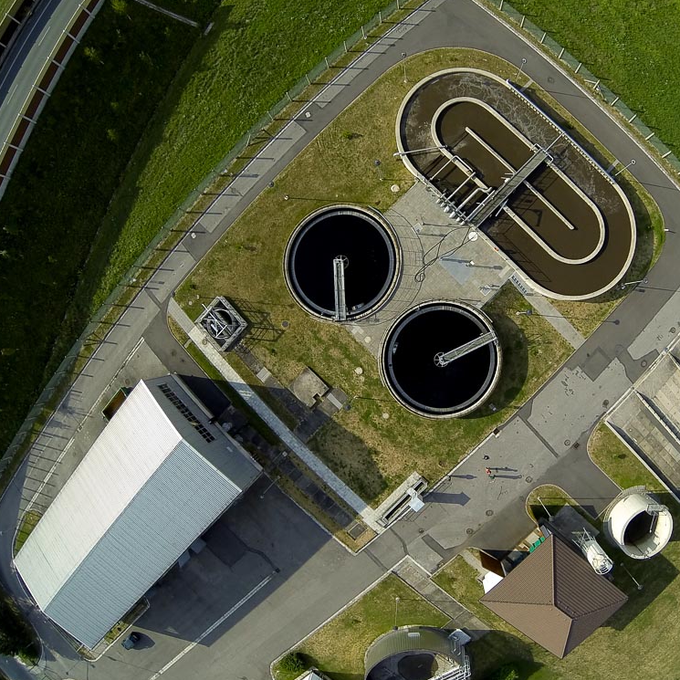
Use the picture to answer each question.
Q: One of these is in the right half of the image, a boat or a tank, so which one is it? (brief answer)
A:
tank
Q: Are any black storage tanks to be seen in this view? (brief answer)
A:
Yes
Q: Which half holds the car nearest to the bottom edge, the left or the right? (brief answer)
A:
left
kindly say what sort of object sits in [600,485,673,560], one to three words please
silo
